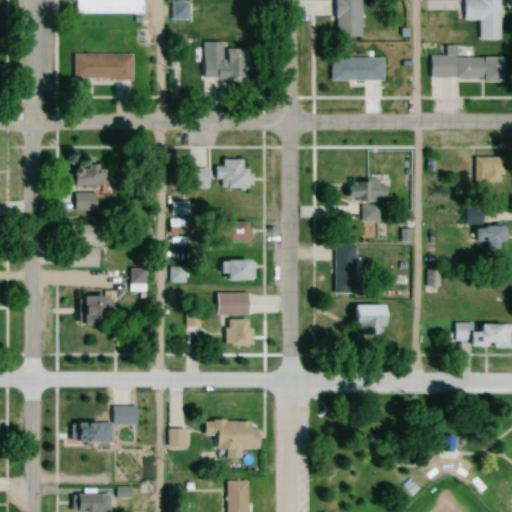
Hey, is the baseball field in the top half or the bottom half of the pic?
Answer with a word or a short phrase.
bottom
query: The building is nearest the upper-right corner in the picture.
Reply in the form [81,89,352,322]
[466,0,503,40]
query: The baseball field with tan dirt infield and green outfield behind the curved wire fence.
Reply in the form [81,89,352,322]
[404,477,491,512]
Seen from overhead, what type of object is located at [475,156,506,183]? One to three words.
house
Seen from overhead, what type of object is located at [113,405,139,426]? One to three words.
building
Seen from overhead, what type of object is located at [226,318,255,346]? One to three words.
house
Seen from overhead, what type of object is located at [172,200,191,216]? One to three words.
shed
